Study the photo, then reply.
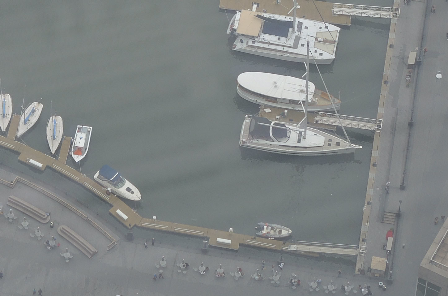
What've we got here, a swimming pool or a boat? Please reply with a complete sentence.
This aerial view contains a boat.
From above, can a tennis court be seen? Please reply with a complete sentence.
No, there isn't any tennis court down there.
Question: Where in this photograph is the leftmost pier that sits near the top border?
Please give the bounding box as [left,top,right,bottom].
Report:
[219,0,352,28]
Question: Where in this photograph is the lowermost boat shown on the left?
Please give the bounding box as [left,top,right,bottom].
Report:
[91,168,140,203]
